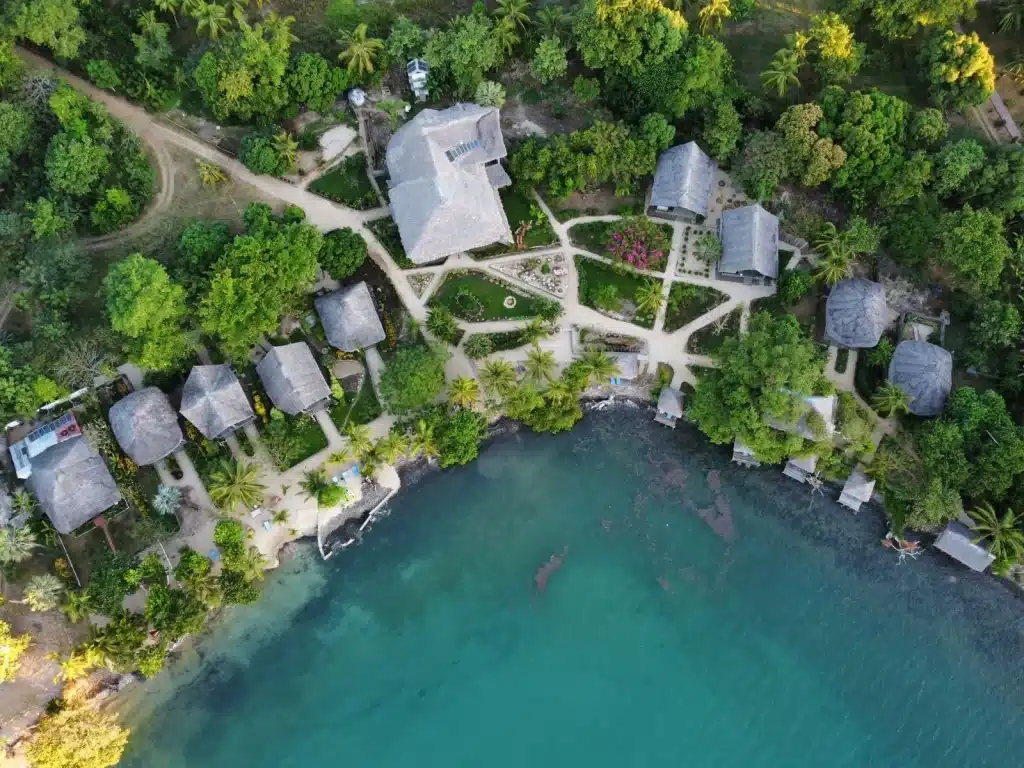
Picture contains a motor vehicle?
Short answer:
No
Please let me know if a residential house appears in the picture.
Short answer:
Yes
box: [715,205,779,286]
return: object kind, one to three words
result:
shed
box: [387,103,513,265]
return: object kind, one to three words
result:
house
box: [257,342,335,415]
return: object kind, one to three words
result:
shed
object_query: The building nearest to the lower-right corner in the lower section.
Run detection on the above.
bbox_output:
[925,516,998,572]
